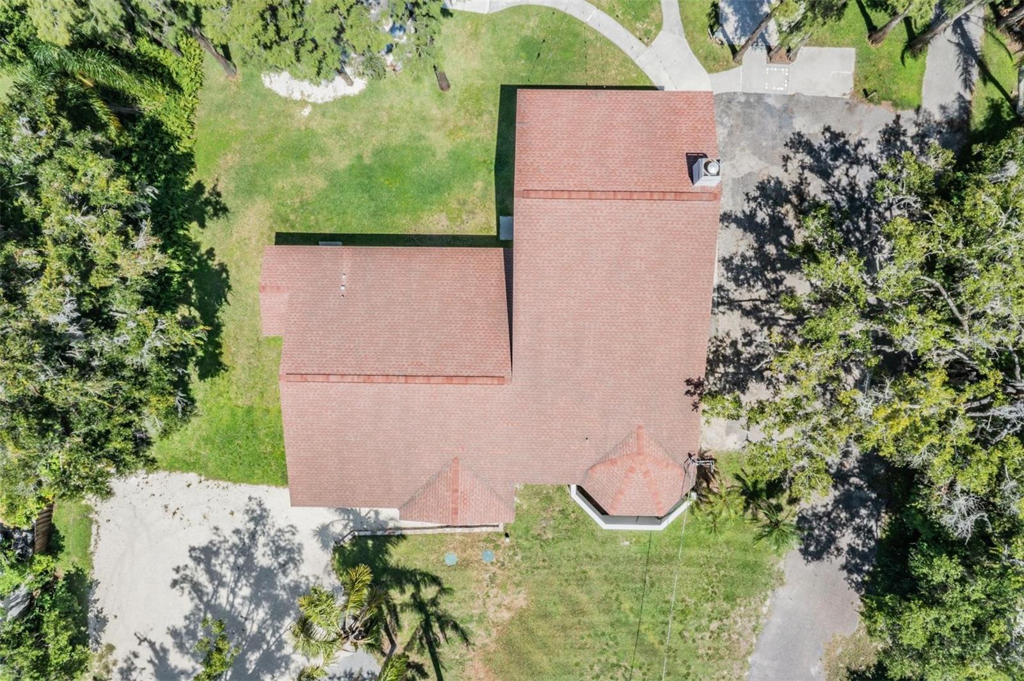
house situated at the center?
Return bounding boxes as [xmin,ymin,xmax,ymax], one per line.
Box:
[260,89,723,530]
